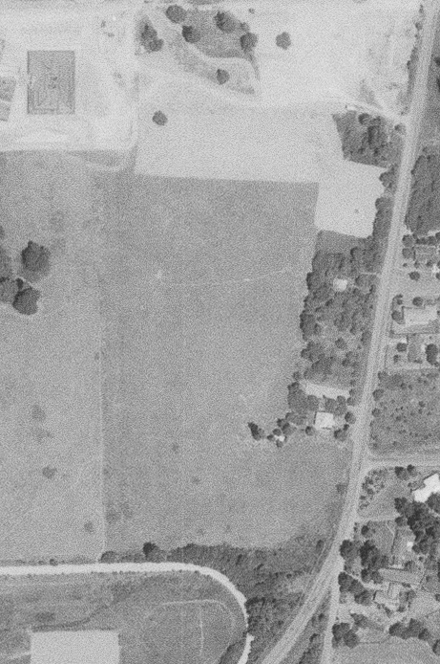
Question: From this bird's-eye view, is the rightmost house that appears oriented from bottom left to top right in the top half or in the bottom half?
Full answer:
Seen from above, the rightmost house that appears oriented from bottom left to top right lies in the bottom half of the view.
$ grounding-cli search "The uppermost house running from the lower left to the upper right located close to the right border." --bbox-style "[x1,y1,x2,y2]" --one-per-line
[411,475,440,503]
